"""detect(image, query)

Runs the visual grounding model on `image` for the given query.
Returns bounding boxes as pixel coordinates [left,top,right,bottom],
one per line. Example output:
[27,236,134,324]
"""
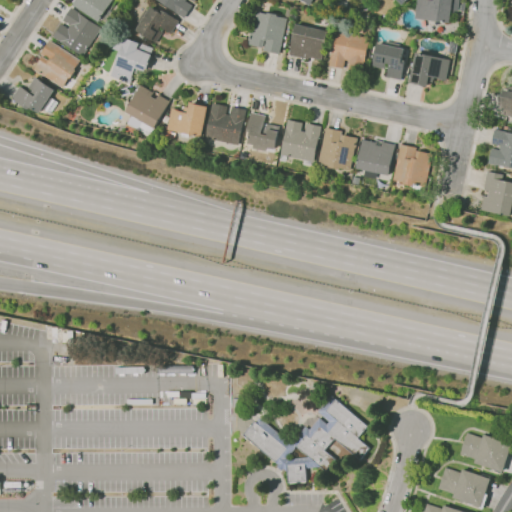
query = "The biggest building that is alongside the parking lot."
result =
[244,400,370,485]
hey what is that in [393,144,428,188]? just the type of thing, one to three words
house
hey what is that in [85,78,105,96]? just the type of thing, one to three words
swimming pool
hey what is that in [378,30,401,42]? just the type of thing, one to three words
swimming pool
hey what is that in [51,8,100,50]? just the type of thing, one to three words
house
